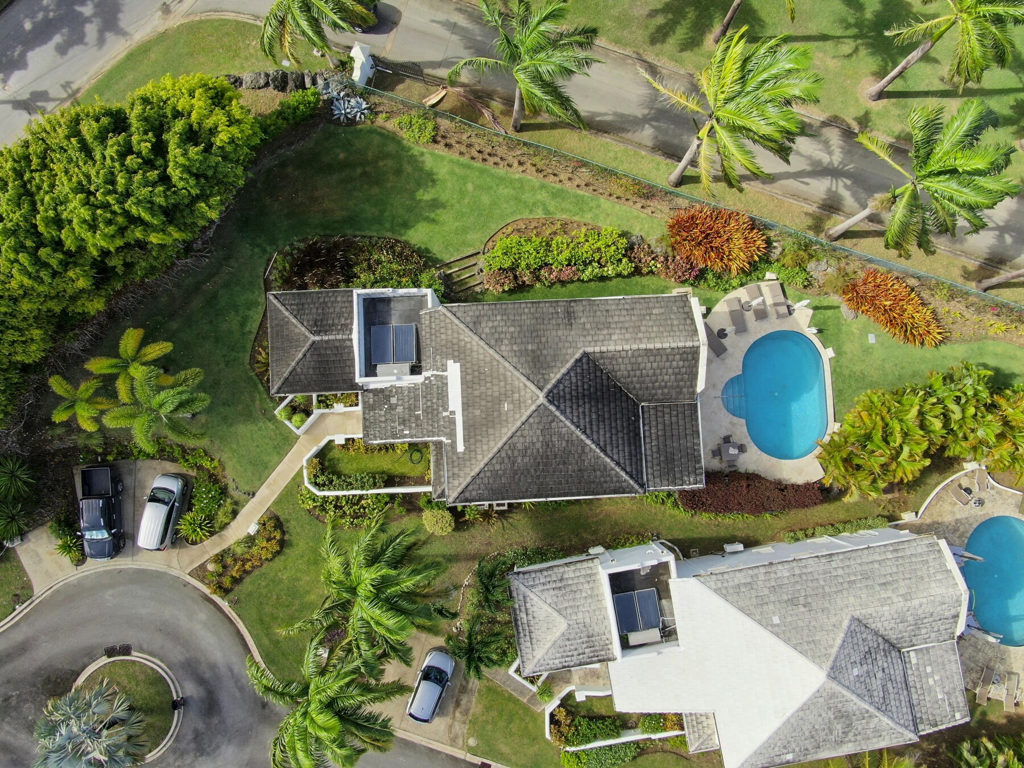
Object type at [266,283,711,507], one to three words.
house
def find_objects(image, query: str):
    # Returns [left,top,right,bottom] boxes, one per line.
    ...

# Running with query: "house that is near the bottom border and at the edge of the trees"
[508,526,978,768]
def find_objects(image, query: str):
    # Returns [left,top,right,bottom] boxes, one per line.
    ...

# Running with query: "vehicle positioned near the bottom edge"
[408,642,456,730]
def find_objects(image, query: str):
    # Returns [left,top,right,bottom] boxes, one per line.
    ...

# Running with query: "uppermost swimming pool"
[713,324,835,466]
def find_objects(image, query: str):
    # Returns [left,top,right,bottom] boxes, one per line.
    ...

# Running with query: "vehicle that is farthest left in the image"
[78,455,132,559]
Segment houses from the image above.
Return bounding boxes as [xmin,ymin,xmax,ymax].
[266,283,711,507]
[508,526,978,768]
